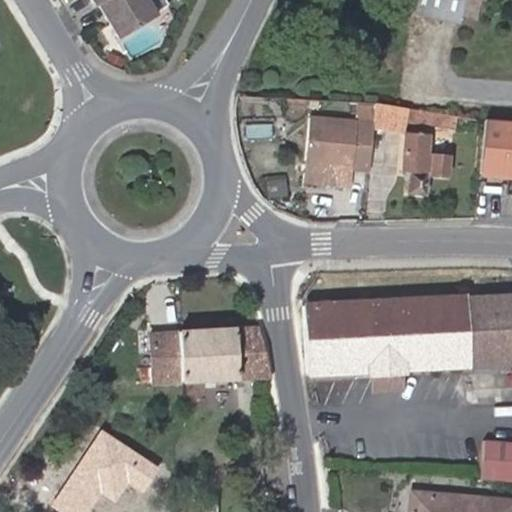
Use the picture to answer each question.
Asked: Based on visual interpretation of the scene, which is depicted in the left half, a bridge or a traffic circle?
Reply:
traffic circle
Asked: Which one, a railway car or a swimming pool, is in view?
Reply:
swimming pool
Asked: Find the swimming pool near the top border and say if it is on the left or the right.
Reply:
left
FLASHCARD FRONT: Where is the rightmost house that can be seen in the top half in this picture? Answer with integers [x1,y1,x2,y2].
[482,118,512,184]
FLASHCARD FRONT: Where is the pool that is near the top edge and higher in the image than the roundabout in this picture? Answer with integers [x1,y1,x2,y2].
[124,25,166,58]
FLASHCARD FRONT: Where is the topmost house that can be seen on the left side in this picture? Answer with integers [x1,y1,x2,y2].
[89,0,160,39]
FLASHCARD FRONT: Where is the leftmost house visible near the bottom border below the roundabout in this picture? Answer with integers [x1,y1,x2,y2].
[46,430,159,512]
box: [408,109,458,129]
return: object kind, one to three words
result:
shed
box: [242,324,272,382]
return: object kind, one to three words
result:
house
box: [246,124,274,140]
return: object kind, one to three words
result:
swimming pool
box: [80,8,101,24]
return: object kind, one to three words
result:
car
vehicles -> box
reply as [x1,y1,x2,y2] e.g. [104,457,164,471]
[312,194,333,204]
[483,184,504,195]
[288,484,297,505]
[317,412,340,424]
[355,438,365,459]
[69,0,91,12]
[477,194,488,216]
[496,406,512,417]
[316,204,326,218]
[402,376,416,400]
[350,184,361,205]
[491,194,502,216]
[466,438,476,460]
[82,271,94,293]
[80,8,101,24]
[164,298,175,324]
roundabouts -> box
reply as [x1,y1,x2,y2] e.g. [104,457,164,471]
[64,101,222,259]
